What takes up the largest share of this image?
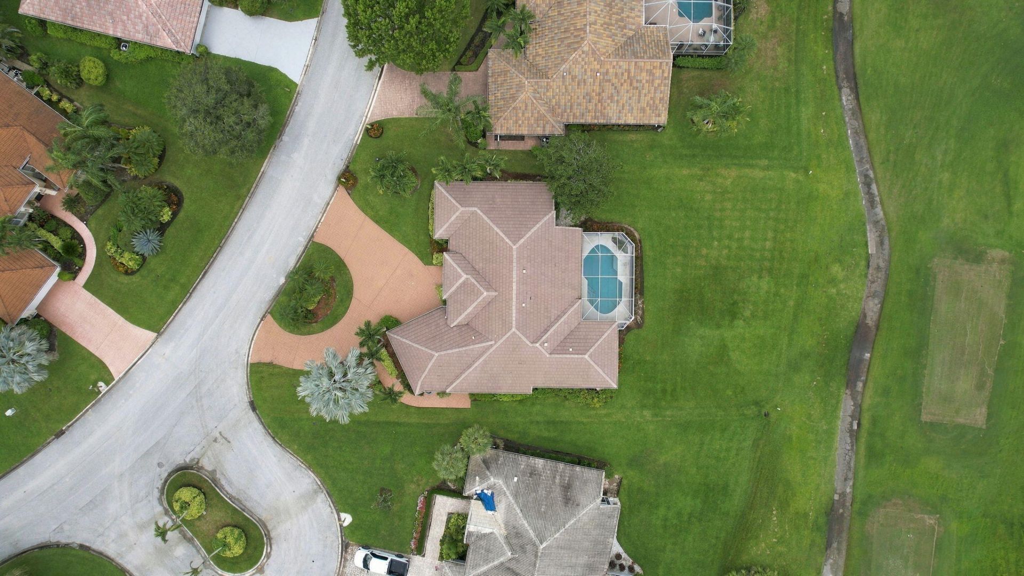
grass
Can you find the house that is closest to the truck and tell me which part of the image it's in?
bottom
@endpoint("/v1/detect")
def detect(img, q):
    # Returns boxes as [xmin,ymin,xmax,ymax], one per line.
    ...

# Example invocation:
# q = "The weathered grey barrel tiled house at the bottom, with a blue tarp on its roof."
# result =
[439,447,621,576]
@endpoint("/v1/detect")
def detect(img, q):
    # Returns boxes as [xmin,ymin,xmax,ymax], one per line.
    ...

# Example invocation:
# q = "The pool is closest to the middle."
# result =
[582,242,625,317]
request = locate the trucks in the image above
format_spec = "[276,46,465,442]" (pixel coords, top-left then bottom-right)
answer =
[352,545,411,576]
